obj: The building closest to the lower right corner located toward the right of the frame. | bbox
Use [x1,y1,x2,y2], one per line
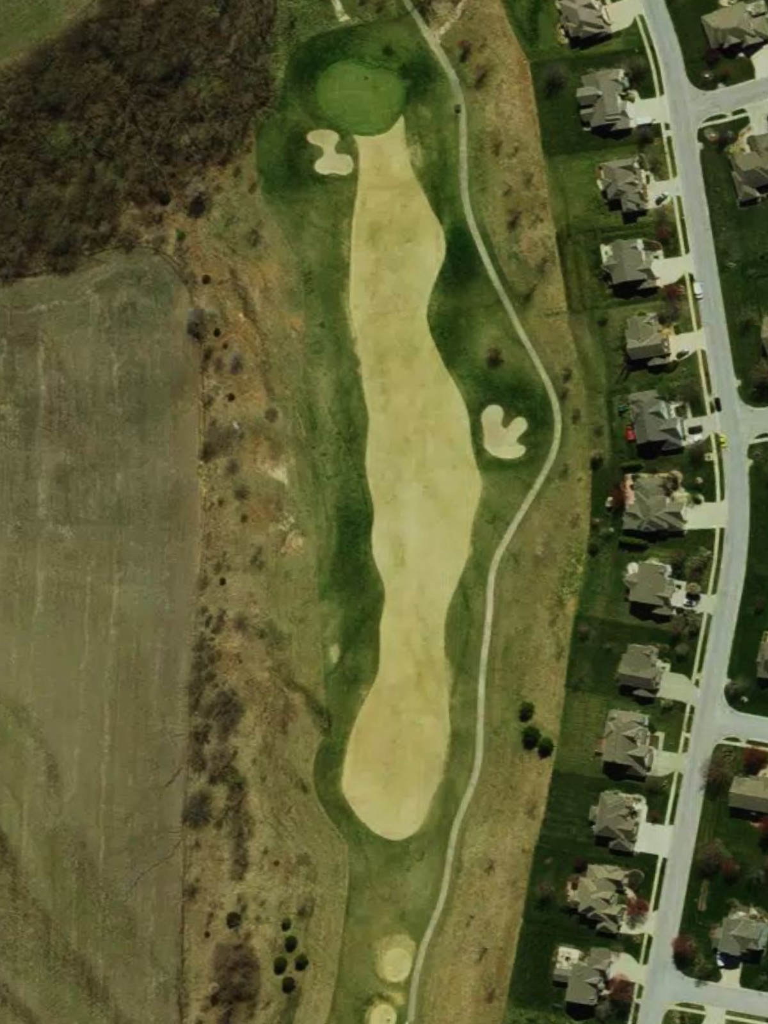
[710,916,767,957]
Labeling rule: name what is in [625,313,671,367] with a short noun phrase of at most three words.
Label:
house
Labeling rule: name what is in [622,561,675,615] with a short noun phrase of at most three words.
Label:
house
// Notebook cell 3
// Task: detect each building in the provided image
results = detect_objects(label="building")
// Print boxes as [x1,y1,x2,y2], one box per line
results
[597,160,651,212]
[701,0,768,47]
[557,0,615,39]
[710,916,767,957]
[622,561,675,615]
[625,313,671,367]
[601,238,660,290]
[629,392,685,450]
[575,860,627,936]
[755,634,768,679]
[616,640,663,699]
[572,68,636,130]
[601,707,652,773]
[731,133,768,202]
[587,791,638,852]
[621,476,684,538]
[552,948,615,1005]
[727,773,768,818]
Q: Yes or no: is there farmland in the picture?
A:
Yes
